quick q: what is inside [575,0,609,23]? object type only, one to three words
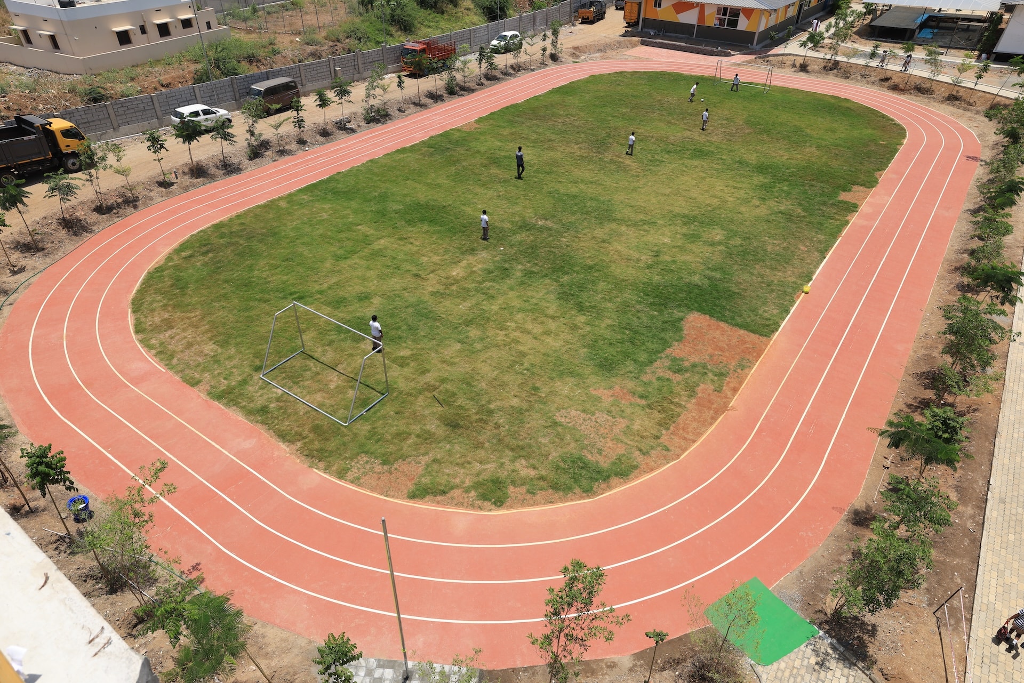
truck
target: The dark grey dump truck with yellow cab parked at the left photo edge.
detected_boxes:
[0,112,83,186]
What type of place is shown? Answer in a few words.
sports ground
